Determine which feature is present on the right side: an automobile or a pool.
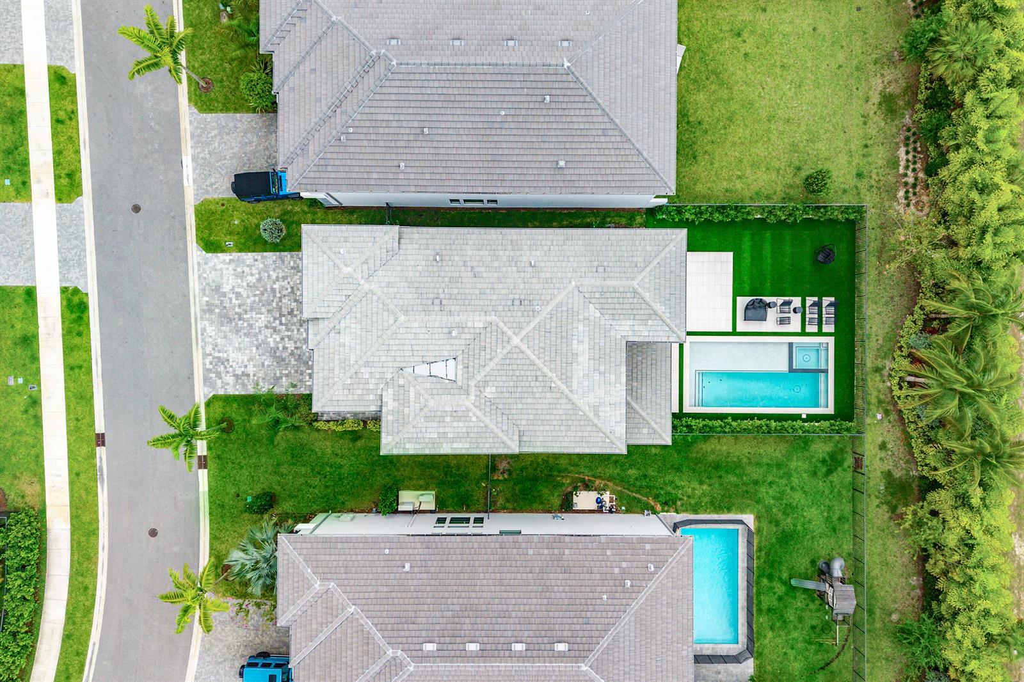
pool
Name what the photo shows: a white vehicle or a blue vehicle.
blue vehicle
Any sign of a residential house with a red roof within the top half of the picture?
No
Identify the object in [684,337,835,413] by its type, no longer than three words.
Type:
swimming pool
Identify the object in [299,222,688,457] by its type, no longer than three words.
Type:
house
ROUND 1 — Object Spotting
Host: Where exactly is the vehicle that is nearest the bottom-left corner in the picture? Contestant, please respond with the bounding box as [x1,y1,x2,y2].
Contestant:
[236,648,298,682]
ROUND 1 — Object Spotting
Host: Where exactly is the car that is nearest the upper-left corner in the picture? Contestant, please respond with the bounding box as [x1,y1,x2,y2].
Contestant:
[229,166,303,204]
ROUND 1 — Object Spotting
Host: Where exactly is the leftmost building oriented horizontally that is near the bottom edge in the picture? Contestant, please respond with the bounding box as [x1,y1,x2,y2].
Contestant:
[275,511,695,682]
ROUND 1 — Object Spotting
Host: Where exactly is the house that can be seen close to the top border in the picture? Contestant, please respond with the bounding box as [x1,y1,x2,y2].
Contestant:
[257,0,678,209]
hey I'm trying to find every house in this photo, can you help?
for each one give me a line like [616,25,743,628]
[299,222,688,457]
[275,511,695,682]
[257,0,678,209]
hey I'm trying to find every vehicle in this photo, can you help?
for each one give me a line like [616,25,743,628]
[229,166,303,204]
[236,648,298,682]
